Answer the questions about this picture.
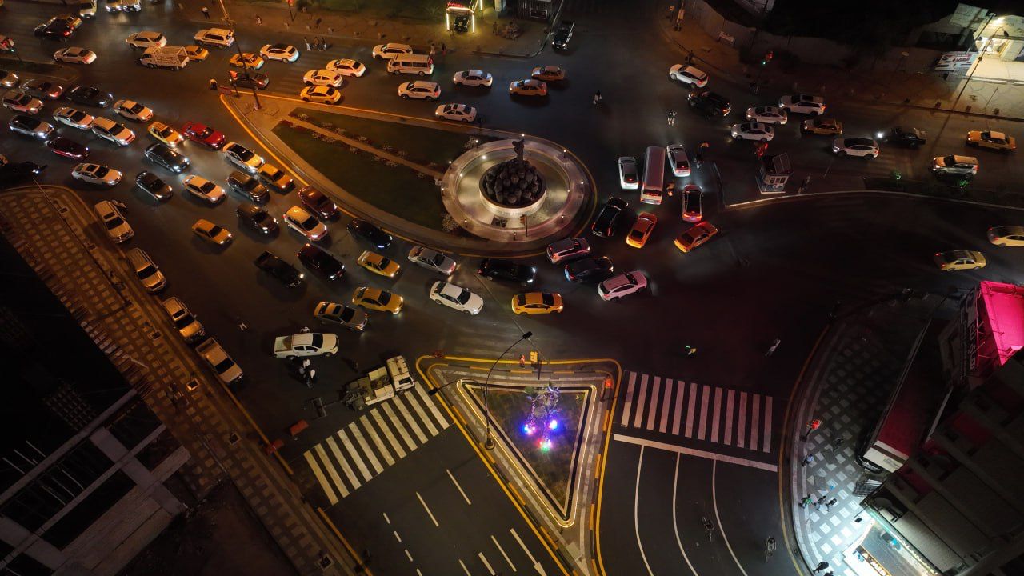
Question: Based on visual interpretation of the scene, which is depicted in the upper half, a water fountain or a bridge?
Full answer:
The one visible in the upper half is a water fountain.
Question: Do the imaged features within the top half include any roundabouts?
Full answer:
Yes, a roundabout is visible within the top half.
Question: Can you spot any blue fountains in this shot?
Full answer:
No, the picture doesn't show any blue fountain.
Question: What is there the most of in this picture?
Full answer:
Most of the picture is covered by paved ground.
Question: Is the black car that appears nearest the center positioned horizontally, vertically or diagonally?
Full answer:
I'd say the black car that appears nearest the center is aligned horizontally in the picture.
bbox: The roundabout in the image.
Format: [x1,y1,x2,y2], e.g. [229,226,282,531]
[227,92,595,255]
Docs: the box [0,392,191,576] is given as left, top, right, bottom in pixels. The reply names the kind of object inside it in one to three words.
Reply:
building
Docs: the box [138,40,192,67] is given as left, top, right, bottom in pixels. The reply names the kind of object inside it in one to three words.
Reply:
truck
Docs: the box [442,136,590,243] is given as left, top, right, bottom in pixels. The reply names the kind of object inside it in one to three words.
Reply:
fountain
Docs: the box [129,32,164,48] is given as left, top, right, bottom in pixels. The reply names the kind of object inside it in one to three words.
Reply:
car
